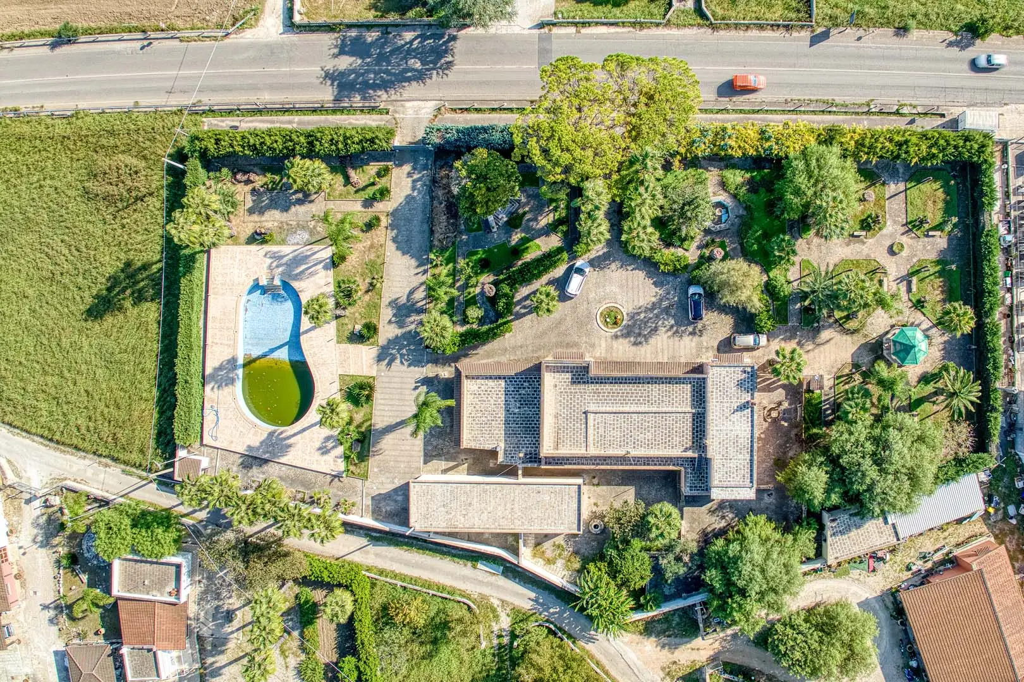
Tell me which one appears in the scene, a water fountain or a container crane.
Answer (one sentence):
Looking from above, you can make out a water fountain.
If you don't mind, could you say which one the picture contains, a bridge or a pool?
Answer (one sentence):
There is a pool in the scene.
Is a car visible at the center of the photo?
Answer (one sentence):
Yes, a car shows up at the center of the photo.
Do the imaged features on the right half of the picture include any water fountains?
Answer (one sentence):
Yes, there is a water fountain on the right half of the picture.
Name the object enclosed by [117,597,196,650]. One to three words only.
house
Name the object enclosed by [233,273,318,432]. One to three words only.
swimming pool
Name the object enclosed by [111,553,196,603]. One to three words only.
house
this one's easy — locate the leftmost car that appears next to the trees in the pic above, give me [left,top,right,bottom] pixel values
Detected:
[565,261,588,297]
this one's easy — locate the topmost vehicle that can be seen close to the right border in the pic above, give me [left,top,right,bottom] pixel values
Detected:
[969,53,1006,71]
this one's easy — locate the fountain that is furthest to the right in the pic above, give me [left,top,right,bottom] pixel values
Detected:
[706,198,737,228]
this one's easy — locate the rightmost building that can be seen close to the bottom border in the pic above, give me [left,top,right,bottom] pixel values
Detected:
[896,539,1024,682]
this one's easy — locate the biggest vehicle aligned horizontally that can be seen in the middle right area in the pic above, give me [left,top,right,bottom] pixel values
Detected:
[730,333,765,349]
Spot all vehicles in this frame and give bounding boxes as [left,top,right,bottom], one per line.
[969,53,1006,71]
[686,285,705,320]
[565,261,588,297]
[730,333,765,349]
[730,73,764,94]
